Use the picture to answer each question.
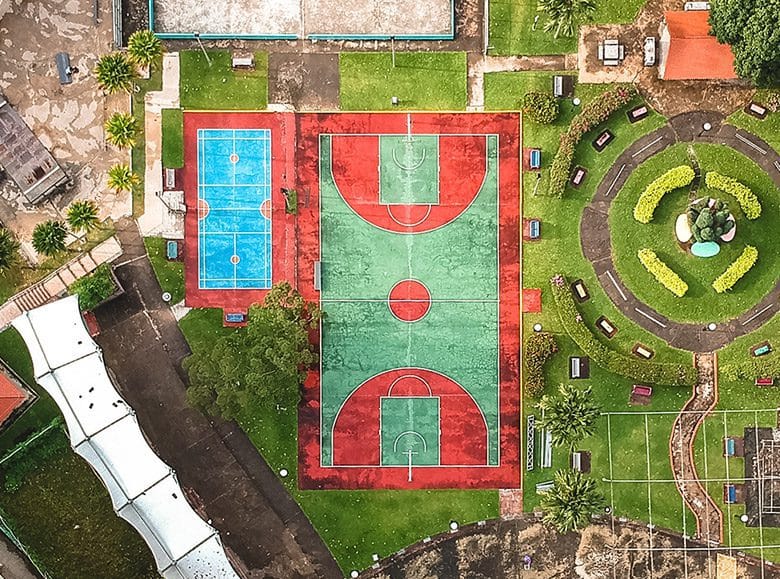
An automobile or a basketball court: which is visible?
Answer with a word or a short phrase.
basketball court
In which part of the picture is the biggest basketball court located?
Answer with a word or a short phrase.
center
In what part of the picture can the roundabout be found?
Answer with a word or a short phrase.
right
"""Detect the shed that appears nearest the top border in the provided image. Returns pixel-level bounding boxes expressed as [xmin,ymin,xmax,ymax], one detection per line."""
[657,11,742,82]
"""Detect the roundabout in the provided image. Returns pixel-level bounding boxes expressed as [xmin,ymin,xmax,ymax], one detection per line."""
[582,112,780,351]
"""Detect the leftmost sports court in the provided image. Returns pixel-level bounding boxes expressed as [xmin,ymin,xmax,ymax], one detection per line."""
[184,111,298,327]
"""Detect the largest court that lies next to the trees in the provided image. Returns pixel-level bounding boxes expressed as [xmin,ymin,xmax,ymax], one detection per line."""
[184,109,523,489]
